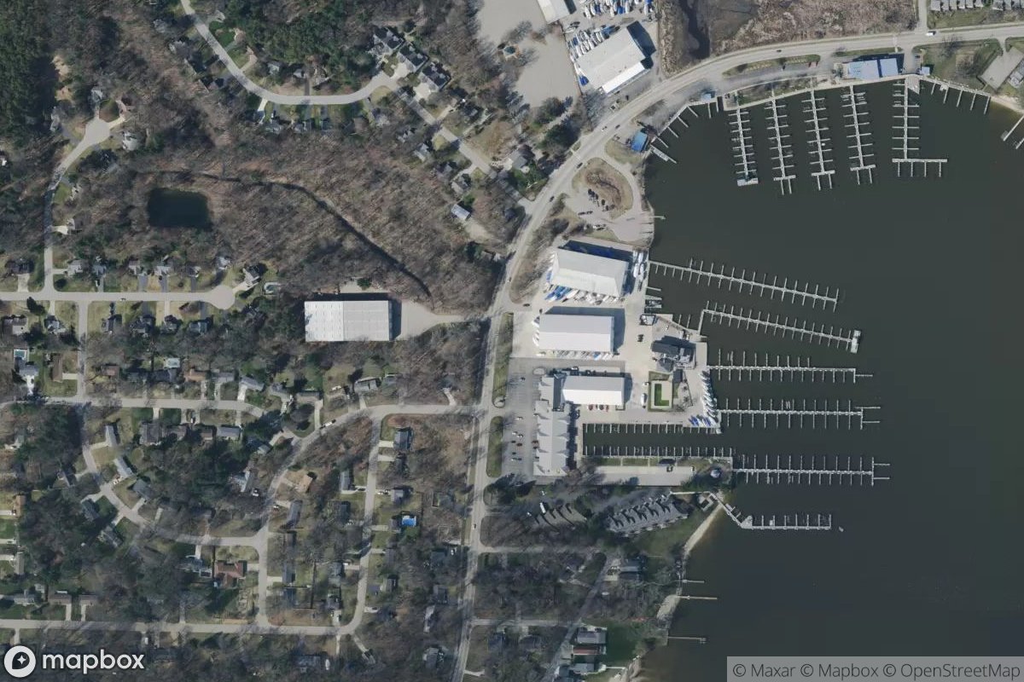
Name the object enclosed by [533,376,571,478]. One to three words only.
building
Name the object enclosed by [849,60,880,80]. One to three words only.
building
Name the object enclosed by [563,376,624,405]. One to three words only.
shed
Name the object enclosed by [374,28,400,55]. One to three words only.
house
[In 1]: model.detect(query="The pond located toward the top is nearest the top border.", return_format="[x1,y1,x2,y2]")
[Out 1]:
[147,187,212,229]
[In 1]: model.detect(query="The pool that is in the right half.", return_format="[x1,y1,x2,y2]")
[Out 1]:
[652,381,672,408]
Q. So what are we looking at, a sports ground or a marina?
marina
